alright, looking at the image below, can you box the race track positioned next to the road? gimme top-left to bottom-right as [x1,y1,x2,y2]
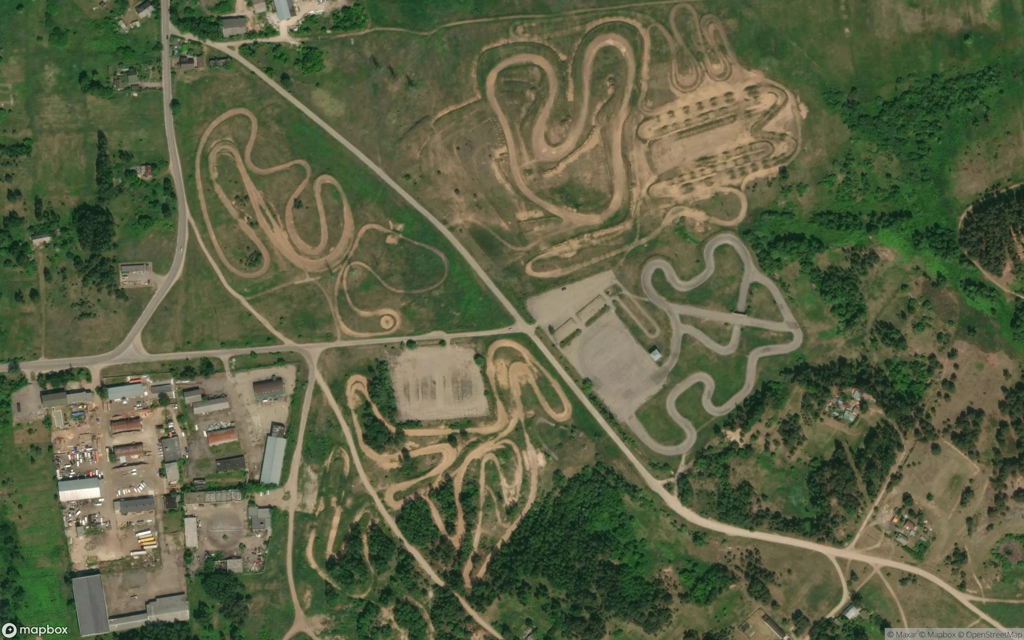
[622,234,803,455]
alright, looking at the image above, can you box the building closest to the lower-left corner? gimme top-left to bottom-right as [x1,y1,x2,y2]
[71,574,109,637]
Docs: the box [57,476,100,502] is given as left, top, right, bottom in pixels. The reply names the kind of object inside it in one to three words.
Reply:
building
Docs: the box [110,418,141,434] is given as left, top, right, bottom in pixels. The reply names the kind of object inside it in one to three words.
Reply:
shed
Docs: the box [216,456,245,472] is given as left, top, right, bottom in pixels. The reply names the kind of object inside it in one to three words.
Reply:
barn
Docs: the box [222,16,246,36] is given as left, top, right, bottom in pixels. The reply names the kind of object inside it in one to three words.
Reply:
house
